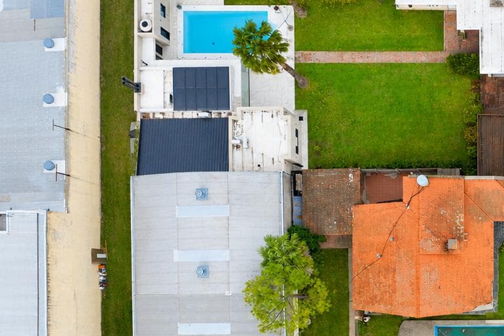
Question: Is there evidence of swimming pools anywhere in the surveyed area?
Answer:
Yes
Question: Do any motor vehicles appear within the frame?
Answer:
No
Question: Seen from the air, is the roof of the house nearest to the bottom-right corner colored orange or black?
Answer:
orange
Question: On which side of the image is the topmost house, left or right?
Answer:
right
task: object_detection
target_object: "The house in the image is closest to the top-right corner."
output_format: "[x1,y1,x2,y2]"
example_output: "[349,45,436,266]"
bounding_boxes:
[395,0,504,84]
